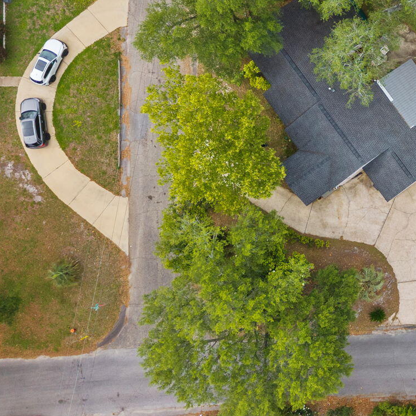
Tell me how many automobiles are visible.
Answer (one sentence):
The number of automobiles here is 2.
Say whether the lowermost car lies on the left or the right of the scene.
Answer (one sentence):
You can find the lowermost car on the left side of the picture.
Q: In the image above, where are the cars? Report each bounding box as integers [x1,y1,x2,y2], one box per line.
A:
[22,99,52,148]
[30,40,71,84]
